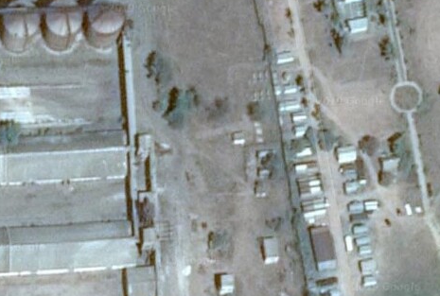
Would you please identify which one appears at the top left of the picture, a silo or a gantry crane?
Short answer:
silo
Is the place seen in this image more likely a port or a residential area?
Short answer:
residential area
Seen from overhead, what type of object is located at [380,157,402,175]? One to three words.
house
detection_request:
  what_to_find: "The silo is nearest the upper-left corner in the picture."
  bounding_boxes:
[1,3,40,52]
